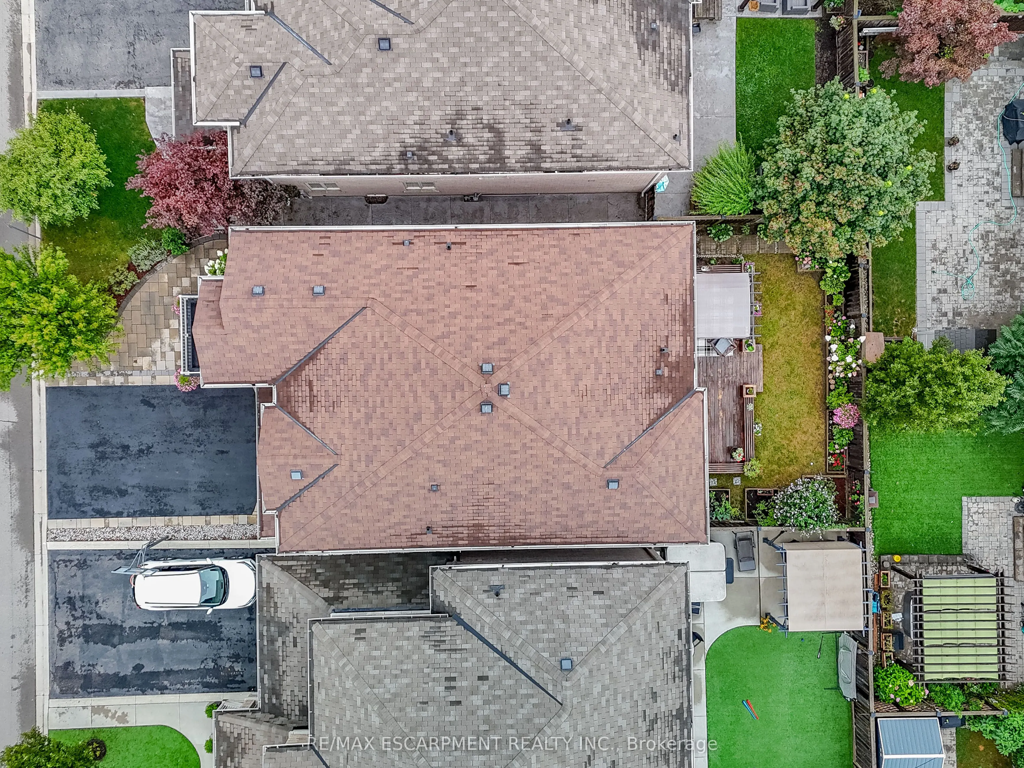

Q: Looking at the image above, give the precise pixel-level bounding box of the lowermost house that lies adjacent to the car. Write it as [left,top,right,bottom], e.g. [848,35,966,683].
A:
[213,548,692,768]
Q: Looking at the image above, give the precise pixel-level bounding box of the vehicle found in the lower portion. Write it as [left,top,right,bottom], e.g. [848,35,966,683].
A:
[128,554,258,618]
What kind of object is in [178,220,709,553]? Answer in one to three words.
house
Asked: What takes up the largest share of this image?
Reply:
buildings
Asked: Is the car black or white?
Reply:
white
